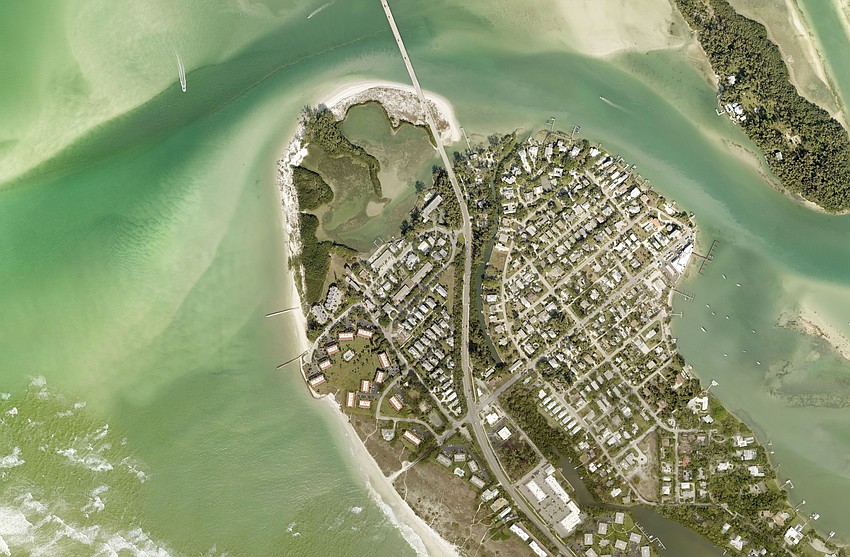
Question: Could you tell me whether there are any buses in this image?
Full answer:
No, no bus is visible in the scene.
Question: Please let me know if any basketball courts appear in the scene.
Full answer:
No, the frame has no basketball court in it.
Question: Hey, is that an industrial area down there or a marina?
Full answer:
The area seen from above is a marina.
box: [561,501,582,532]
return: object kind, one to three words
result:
building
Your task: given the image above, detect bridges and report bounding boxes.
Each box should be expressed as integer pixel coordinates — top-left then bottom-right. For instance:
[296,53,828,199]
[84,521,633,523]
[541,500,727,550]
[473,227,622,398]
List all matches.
[381,0,446,152]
